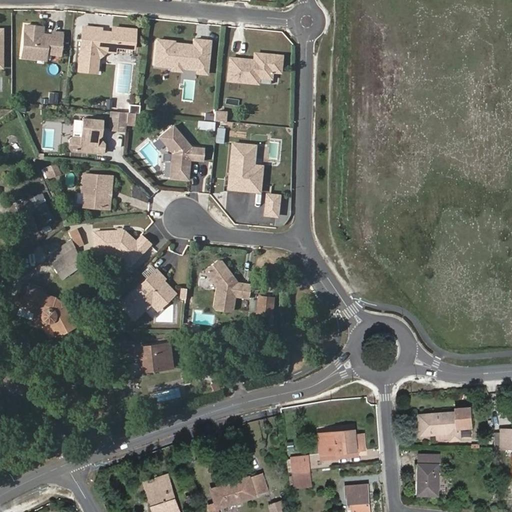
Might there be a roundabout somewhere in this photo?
Yes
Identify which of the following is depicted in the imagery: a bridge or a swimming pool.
swimming pool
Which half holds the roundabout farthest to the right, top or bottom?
bottom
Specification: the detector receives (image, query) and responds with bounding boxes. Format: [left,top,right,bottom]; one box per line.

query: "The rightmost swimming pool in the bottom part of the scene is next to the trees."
[193,310,214,326]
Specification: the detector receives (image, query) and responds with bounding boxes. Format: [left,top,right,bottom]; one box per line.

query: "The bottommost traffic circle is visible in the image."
[344,312,423,386]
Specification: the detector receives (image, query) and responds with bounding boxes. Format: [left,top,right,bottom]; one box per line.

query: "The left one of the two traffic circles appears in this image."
[288,2,326,40]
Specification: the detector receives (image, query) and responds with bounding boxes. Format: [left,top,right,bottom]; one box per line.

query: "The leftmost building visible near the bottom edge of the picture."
[143,474,180,512]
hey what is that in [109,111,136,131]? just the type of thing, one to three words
building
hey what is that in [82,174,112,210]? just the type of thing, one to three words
house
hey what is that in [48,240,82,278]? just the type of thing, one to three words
barn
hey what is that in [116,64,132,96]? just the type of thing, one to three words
swimming pool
